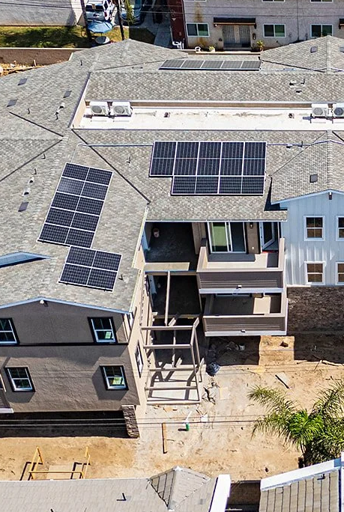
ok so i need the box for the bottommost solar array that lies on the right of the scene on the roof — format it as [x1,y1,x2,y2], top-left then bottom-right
[147,140,266,194]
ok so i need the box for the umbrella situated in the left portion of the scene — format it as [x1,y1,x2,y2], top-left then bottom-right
[85,22,113,44]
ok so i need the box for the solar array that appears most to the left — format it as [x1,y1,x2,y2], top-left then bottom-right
[37,161,122,290]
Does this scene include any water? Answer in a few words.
No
